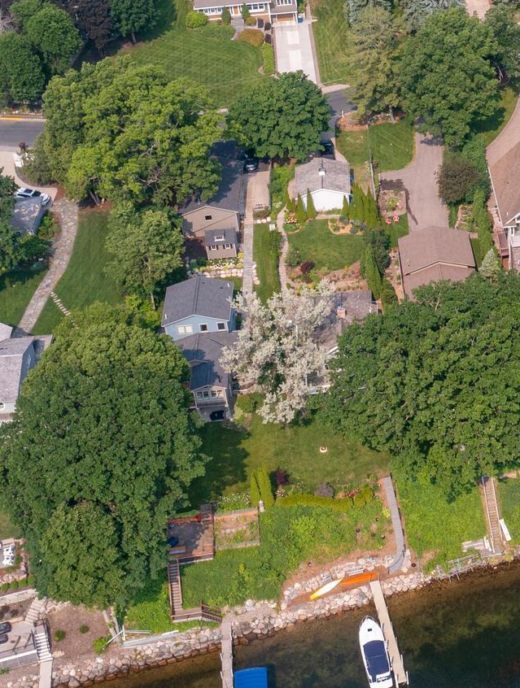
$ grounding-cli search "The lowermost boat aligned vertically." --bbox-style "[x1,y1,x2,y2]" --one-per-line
[360,614,395,688]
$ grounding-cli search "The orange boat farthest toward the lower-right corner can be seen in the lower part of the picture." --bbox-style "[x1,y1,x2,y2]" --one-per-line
[339,571,377,585]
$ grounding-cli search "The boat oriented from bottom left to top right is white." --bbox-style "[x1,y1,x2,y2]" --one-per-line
[310,576,342,597]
